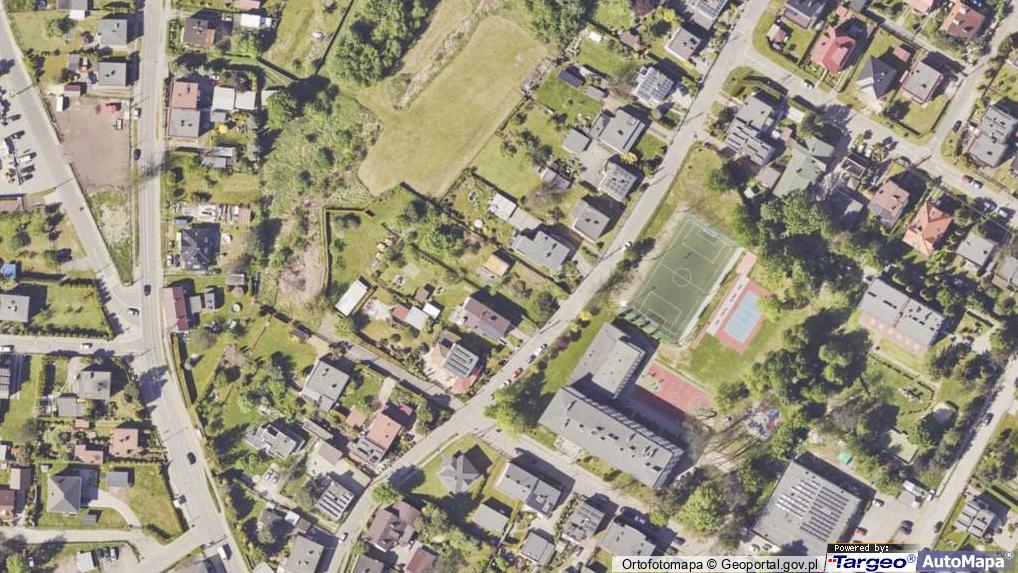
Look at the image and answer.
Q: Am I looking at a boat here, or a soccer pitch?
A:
soccer pitch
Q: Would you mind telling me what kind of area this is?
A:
residential area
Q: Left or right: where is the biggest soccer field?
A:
right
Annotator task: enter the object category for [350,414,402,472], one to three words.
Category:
house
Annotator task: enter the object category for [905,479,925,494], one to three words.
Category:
vehicle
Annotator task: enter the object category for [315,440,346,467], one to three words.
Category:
building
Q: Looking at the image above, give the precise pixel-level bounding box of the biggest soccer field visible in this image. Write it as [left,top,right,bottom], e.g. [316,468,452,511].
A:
[626,211,745,342]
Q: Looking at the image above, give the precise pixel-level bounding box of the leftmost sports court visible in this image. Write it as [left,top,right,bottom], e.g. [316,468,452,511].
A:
[633,362,713,419]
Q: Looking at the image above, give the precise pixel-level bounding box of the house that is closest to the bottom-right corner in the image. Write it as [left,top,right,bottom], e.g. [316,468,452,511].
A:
[954,501,995,537]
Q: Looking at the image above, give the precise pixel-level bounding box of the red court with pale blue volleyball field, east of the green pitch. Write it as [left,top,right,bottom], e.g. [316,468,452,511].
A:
[717,280,772,352]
